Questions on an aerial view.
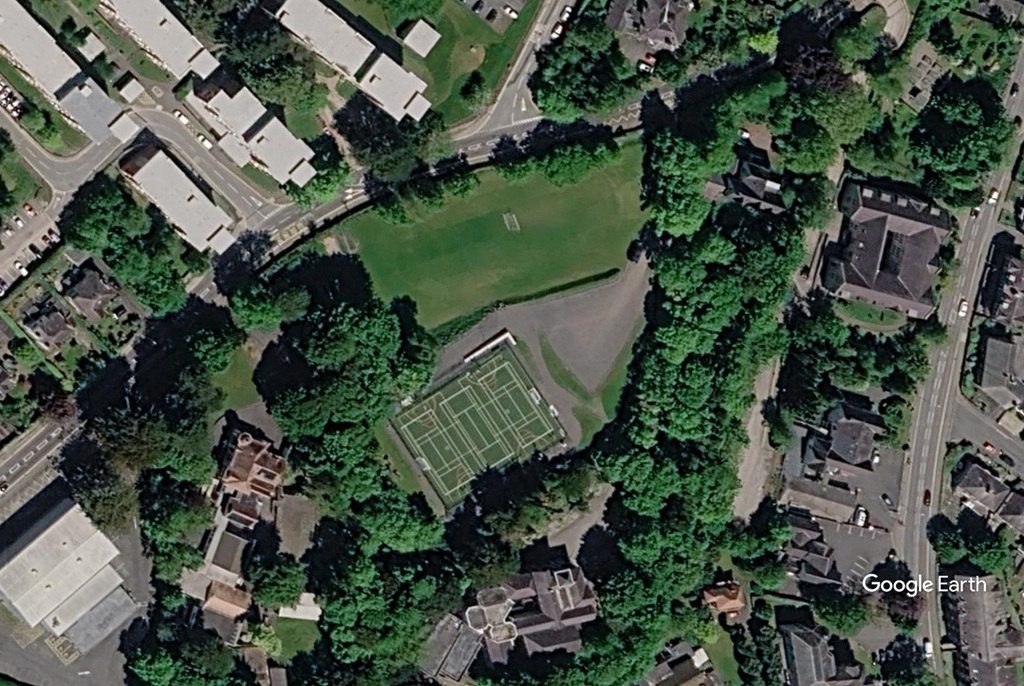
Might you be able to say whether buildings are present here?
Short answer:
Yes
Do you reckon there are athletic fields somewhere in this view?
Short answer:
Yes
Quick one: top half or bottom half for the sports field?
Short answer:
top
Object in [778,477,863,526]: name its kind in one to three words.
shed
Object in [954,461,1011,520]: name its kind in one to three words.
house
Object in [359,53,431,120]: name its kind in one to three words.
building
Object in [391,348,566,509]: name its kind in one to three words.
sports court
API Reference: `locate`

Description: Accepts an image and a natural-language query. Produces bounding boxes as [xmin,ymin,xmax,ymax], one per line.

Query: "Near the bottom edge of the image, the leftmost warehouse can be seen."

[0,502,137,654]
